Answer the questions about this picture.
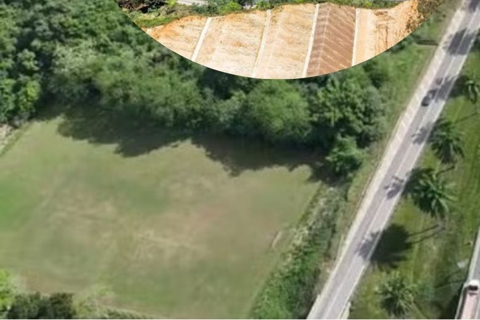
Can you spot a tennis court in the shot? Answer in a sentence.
No, there appears to be no tennis court in this shot.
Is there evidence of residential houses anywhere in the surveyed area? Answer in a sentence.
No, no residential house is visible in the scene.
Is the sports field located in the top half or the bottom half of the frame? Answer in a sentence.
You can find the sports field in the bottom half.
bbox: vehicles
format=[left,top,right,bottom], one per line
[423,90,435,105]
[460,278,480,320]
